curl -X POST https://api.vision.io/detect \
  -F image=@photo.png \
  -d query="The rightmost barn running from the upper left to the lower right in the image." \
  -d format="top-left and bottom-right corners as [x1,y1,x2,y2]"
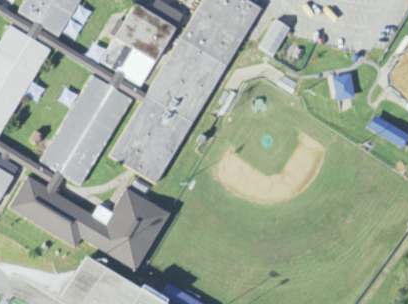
[368,114,408,148]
